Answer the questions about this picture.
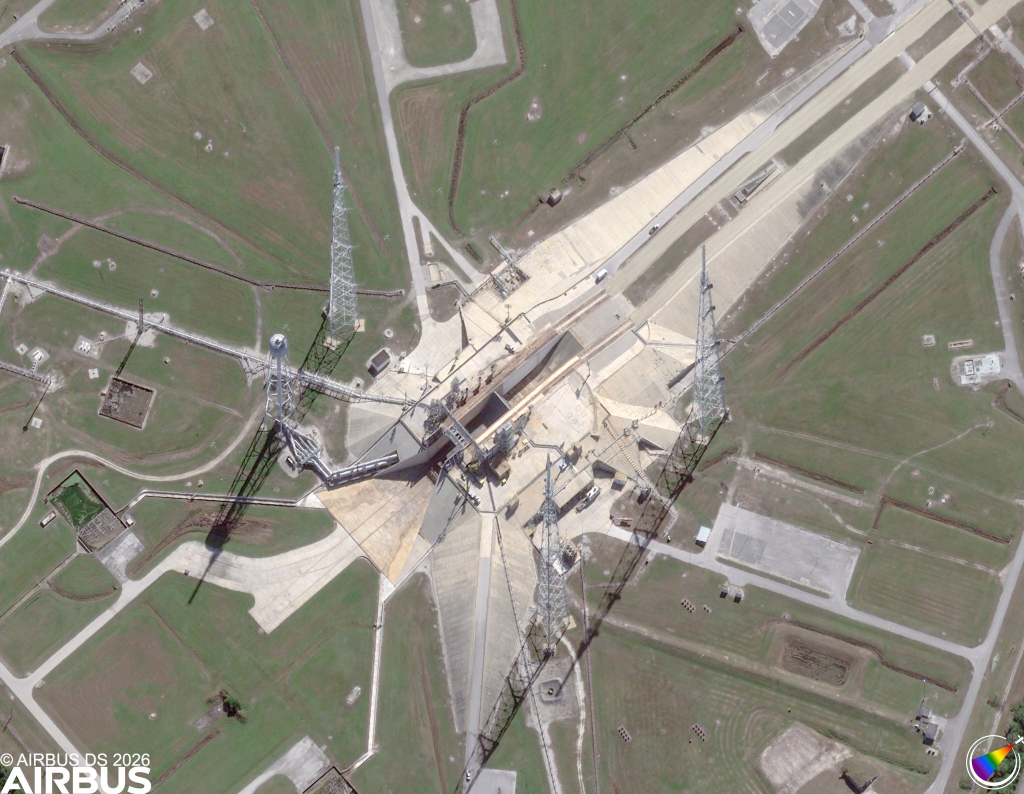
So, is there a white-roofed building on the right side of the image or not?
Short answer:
Yes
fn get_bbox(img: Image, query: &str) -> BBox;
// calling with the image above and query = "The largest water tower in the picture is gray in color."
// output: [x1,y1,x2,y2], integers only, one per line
[261,336,299,438]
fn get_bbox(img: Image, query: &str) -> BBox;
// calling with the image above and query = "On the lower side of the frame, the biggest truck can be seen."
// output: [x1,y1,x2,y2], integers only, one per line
[576,489,598,513]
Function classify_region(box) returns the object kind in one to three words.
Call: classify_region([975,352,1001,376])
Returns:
building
